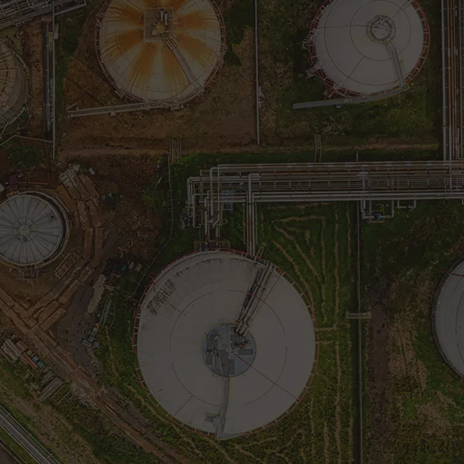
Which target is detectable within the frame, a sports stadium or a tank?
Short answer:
tank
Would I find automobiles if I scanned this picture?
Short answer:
No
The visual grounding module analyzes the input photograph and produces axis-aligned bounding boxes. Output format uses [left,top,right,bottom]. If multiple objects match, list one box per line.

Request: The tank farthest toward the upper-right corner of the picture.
[302,0,430,103]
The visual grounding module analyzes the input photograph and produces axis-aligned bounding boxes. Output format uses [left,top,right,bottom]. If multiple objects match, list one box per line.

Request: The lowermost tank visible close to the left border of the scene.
[0,191,68,275]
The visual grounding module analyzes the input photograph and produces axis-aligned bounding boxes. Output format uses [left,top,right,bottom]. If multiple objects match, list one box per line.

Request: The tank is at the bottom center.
[136,243,317,441]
